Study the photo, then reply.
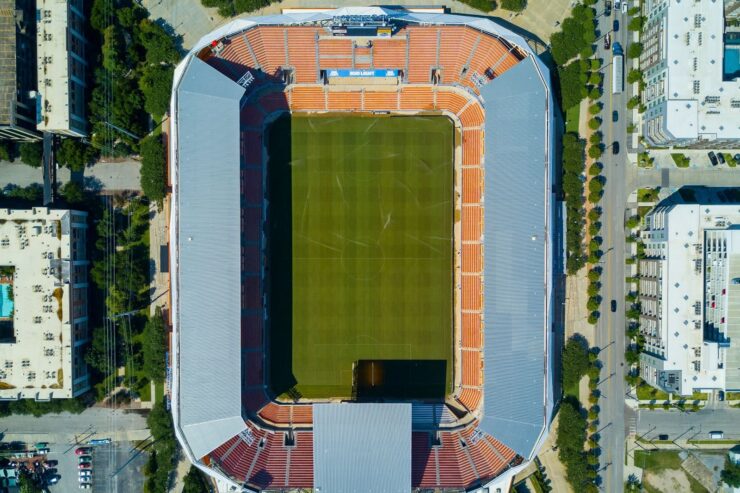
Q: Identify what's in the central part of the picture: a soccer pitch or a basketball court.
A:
soccer pitch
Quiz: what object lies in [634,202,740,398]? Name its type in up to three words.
building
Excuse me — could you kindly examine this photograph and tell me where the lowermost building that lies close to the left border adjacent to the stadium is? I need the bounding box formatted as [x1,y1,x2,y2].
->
[0,207,94,400]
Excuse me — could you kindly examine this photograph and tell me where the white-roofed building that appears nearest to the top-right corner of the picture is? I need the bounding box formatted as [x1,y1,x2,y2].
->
[638,0,740,151]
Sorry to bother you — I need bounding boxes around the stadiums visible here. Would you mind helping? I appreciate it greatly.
[170,7,554,493]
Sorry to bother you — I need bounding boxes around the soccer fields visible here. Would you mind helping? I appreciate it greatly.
[269,116,453,400]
